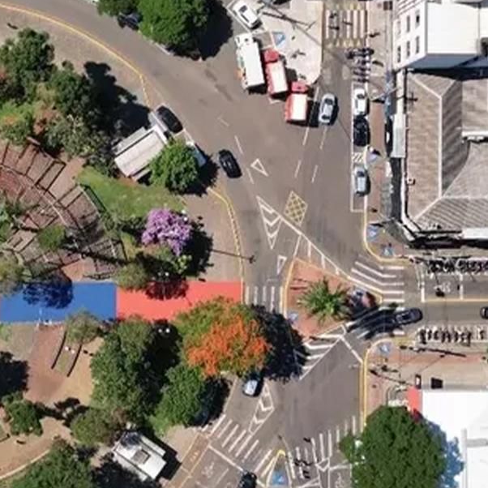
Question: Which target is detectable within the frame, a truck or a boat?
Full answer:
It is a truck that can be seen here.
